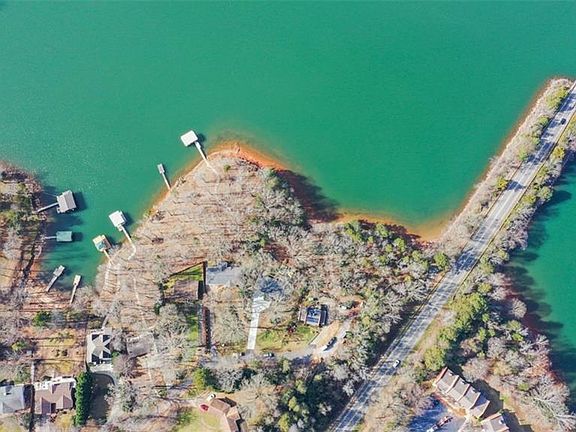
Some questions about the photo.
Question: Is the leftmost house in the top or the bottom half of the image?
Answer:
bottom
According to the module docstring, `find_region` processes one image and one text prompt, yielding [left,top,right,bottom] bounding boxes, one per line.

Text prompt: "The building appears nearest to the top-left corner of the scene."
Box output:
[44,190,76,213]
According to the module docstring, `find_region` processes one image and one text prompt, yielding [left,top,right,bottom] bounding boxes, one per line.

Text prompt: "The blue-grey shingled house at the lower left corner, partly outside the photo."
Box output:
[0,384,30,415]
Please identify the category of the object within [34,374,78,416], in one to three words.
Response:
house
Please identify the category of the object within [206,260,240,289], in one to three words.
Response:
house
